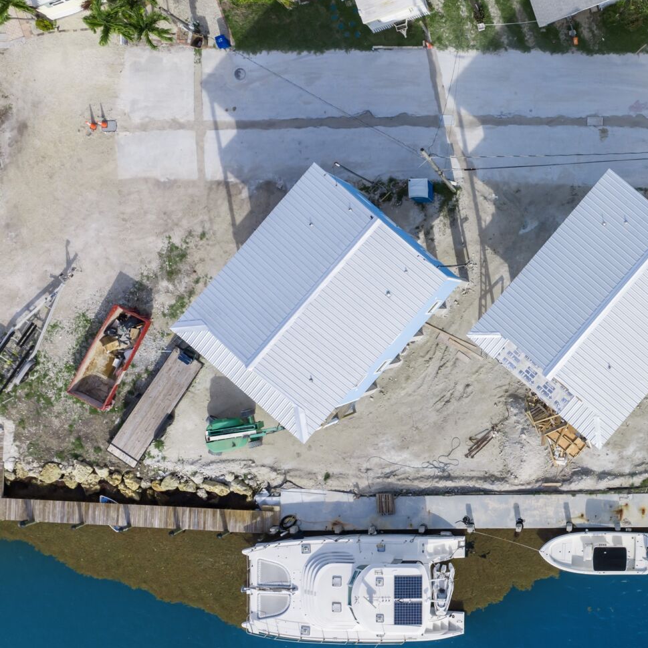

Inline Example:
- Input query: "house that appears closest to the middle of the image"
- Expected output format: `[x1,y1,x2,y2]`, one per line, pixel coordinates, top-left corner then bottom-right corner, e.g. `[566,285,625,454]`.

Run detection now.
[172,162,489,442]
